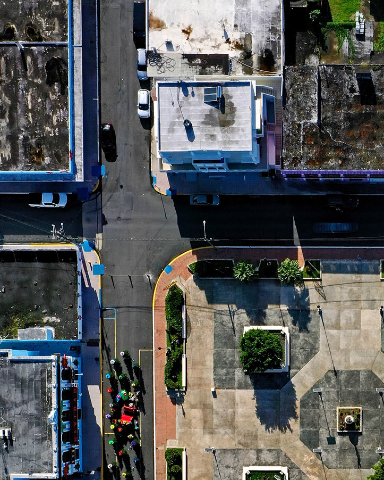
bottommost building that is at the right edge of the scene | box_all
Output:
[281,64,384,193]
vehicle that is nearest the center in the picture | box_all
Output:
[191,193,222,209]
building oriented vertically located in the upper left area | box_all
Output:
[0,0,84,183]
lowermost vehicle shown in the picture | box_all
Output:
[320,218,353,235]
